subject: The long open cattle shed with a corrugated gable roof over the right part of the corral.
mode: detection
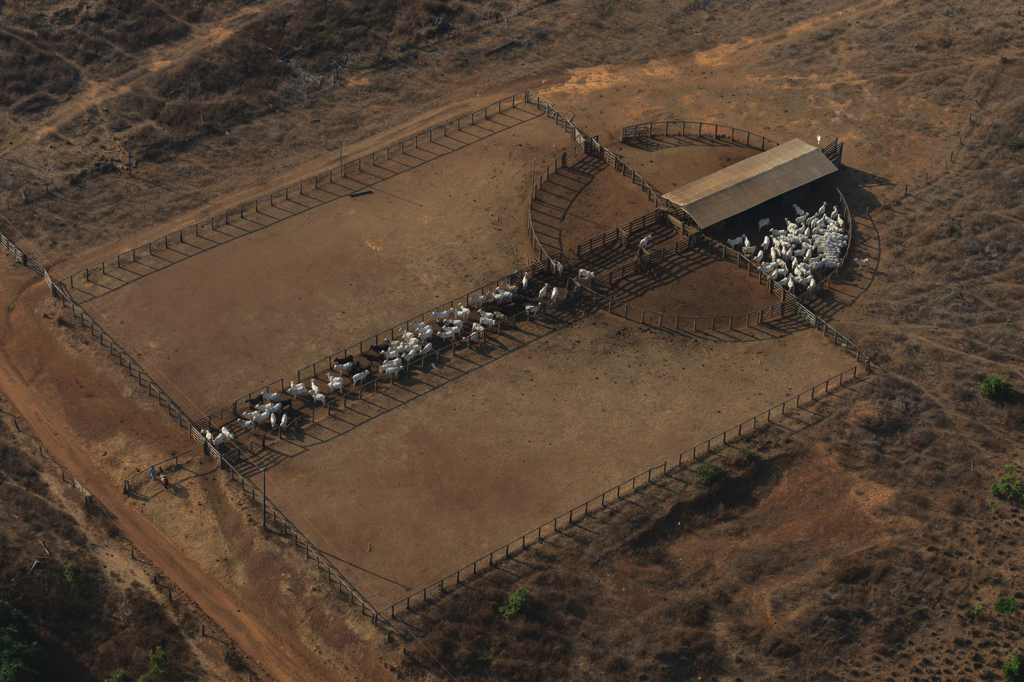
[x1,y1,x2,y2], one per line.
[662,137,836,245]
